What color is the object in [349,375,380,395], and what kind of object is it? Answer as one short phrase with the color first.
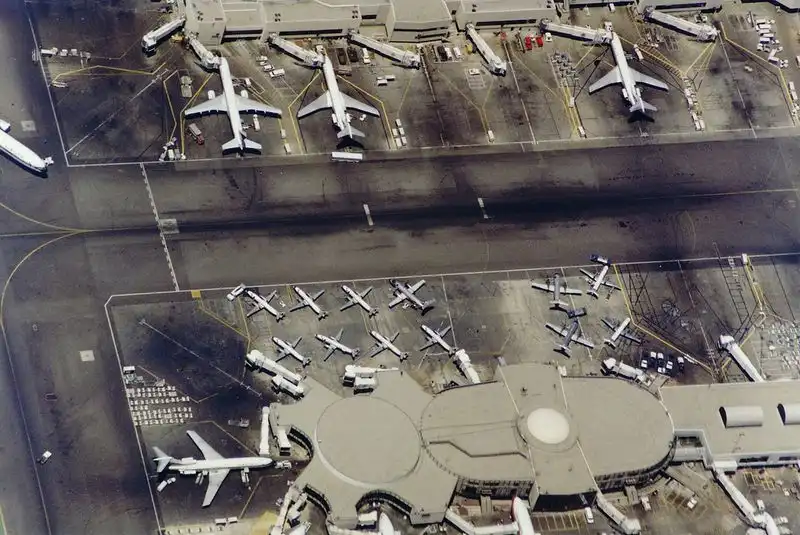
white jet bridge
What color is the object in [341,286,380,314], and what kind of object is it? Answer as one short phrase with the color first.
white airplane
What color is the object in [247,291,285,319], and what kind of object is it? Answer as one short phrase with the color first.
white airplane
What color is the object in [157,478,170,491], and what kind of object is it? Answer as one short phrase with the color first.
white vehicle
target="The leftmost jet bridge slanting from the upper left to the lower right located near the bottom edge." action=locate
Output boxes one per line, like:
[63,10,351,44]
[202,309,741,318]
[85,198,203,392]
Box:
[593,491,640,532]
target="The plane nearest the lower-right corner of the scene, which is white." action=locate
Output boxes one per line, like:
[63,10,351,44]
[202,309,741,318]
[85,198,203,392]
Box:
[763,512,785,535]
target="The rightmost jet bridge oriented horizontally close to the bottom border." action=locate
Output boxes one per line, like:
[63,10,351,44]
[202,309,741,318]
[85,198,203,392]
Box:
[440,508,520,535]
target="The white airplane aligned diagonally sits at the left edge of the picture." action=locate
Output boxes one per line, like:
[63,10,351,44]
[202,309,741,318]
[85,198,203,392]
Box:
[0,115,47,168]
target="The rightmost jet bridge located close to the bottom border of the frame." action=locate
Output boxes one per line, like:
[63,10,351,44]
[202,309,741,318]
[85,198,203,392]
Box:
[709,463,766,523]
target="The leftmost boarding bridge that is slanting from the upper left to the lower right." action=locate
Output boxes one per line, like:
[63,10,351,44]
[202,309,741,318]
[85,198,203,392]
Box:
[185,34,221,68]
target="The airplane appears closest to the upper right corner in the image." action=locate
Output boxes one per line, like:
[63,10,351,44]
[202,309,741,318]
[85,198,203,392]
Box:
[594,34,671,113]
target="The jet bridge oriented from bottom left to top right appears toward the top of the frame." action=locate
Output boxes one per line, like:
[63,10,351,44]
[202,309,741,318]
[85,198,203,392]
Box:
[142,14,186,48]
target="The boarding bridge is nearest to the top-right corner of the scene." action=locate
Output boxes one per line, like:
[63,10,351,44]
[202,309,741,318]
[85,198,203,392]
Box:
[644,7,720,41]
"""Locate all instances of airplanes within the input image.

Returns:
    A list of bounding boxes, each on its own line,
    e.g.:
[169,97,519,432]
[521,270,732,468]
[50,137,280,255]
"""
[273,336,312,365]
[316,329,360,360]
[0,115,47,168]
[580,266,621,295]
[594,34,671,113]
[247,291,285,319]
[296,52,378,132]
[291,287,329,317]
[421,325,459,353]
[155,430,274,504]
[545,320,593,355]
[341,286,380,314]
[370,332,409,361]
[511,498,529,535]
[763,512,785,535]
[380,510,396,535]
[388,280,434,312]
[186,57,281,147]
[531,274,581,311]
[601,319,639,346]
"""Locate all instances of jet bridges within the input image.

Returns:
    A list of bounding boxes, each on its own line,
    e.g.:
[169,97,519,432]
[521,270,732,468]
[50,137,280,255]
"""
[349,375,380,395]
[593,491,640,532]
[346,29,423,70]
[342,363,384,378]
[440,508,520,535]
[709,463,766,523]
[142,14,186,48]
[602,358,654,390]
[244,350,311,390]
[540,17,614,45]
[718,336,768,383]
[454,346,481,385]
[270,373,312,401]
[644,7,720,41]
[267,31,327,69]
[255,403,271,457]
[464,21,509,76]
[286,486,309,520]
[325,523,383,535]
[185,34,221,68]
[270,479,295,535]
